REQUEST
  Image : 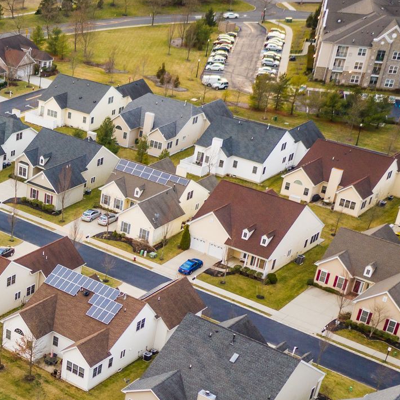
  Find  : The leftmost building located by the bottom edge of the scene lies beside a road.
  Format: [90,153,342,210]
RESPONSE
[0,262,207,392]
